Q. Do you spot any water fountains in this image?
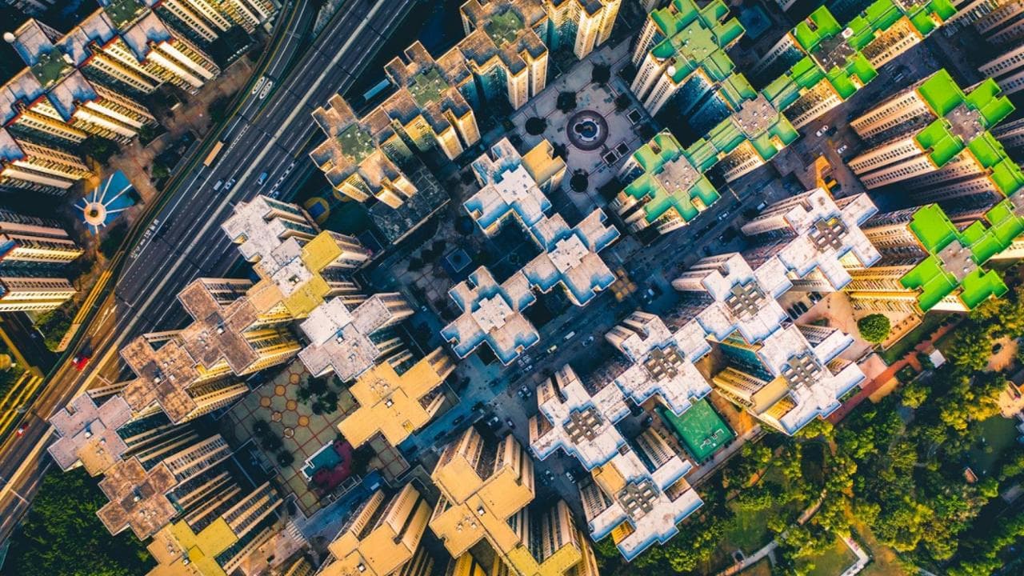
Yes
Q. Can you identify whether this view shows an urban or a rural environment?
urban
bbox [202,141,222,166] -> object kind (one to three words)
vehicle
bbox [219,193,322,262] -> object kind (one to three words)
building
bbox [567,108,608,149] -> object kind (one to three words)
fountain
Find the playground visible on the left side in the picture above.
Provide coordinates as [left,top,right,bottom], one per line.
[297,175,373,240]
